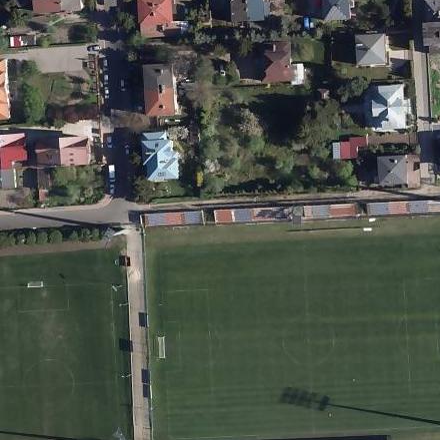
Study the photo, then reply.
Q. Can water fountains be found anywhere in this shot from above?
No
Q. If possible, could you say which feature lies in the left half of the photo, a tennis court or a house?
house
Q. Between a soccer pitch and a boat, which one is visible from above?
soccer pitch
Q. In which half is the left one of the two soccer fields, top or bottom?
bottom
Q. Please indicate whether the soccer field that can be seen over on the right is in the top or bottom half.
bottom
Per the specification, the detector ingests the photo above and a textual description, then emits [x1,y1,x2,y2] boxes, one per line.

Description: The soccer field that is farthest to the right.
[144,214,440,440]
